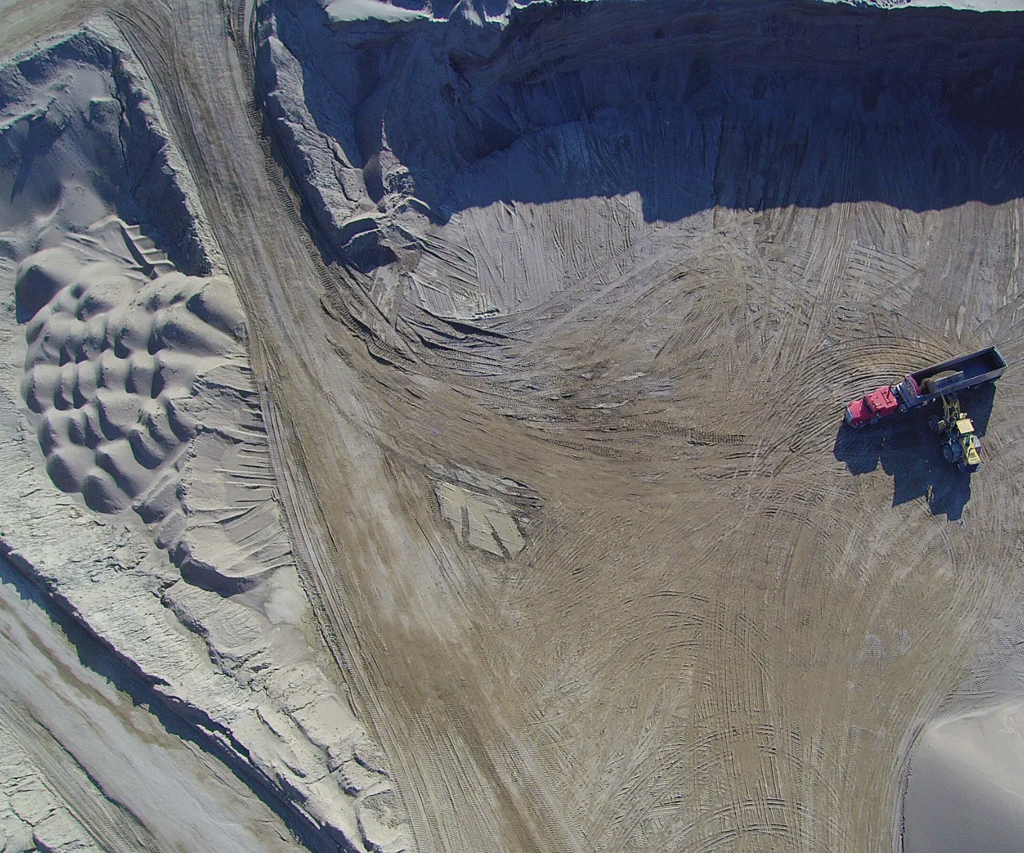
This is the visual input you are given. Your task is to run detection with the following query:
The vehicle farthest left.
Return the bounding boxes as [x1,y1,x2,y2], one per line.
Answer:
[842,383,911,429]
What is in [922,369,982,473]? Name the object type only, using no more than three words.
work vehicle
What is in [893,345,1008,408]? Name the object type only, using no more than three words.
trailer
